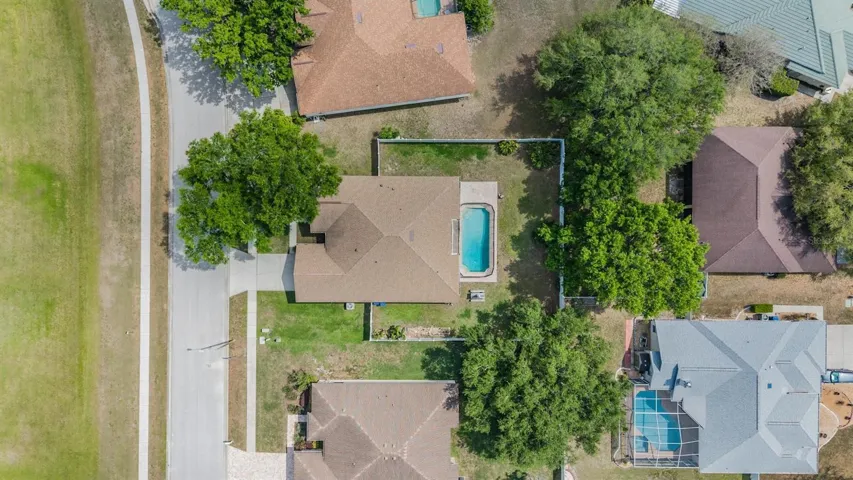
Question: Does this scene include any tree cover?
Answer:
Yes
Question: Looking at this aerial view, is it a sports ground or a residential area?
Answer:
residential area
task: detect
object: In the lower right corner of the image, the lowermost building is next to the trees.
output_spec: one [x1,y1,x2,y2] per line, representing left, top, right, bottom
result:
[646,319,823,474]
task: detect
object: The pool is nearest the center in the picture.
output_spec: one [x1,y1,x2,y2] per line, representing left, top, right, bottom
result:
[460,204,493,273]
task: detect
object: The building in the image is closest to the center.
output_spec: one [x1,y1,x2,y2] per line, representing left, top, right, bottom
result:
[292,177,461,303]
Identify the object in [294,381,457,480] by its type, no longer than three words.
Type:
house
